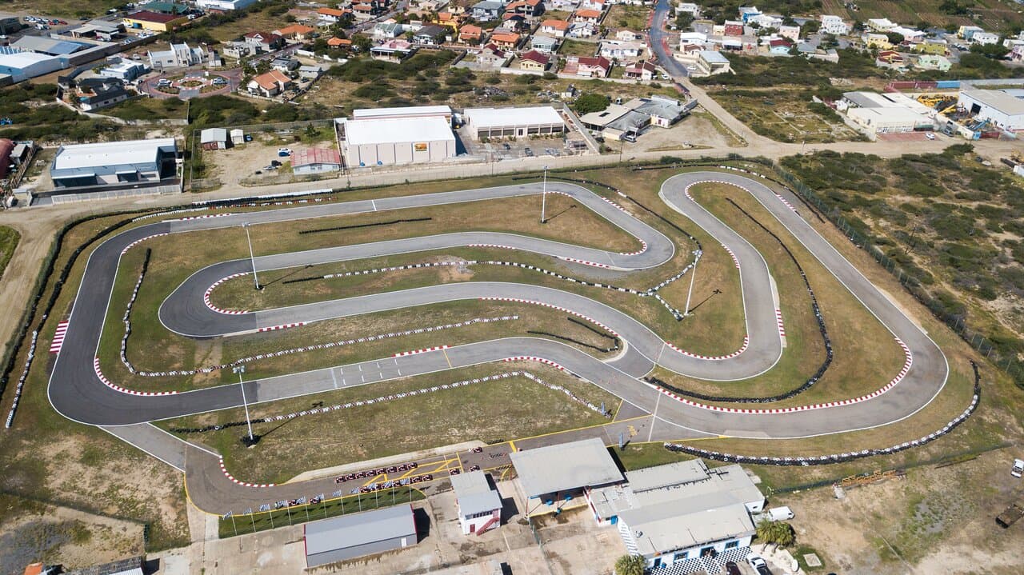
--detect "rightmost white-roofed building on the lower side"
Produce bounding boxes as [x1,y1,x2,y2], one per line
[585,457,765,569]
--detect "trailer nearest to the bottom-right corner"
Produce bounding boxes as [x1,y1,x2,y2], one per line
[990,499,1024,533]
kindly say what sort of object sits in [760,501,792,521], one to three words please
vehicle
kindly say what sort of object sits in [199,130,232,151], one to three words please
shed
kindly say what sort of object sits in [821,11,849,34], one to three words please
house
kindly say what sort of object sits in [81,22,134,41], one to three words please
building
